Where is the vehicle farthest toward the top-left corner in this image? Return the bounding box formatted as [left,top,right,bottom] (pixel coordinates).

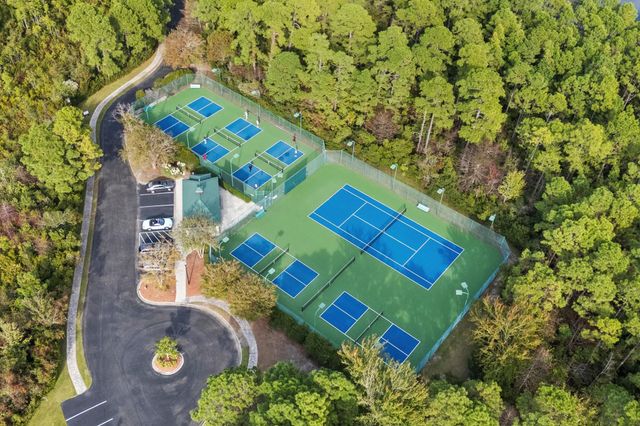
[146,179,175,191]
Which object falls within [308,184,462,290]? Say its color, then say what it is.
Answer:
blue tennis court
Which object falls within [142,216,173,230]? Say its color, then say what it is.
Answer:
white vehicle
